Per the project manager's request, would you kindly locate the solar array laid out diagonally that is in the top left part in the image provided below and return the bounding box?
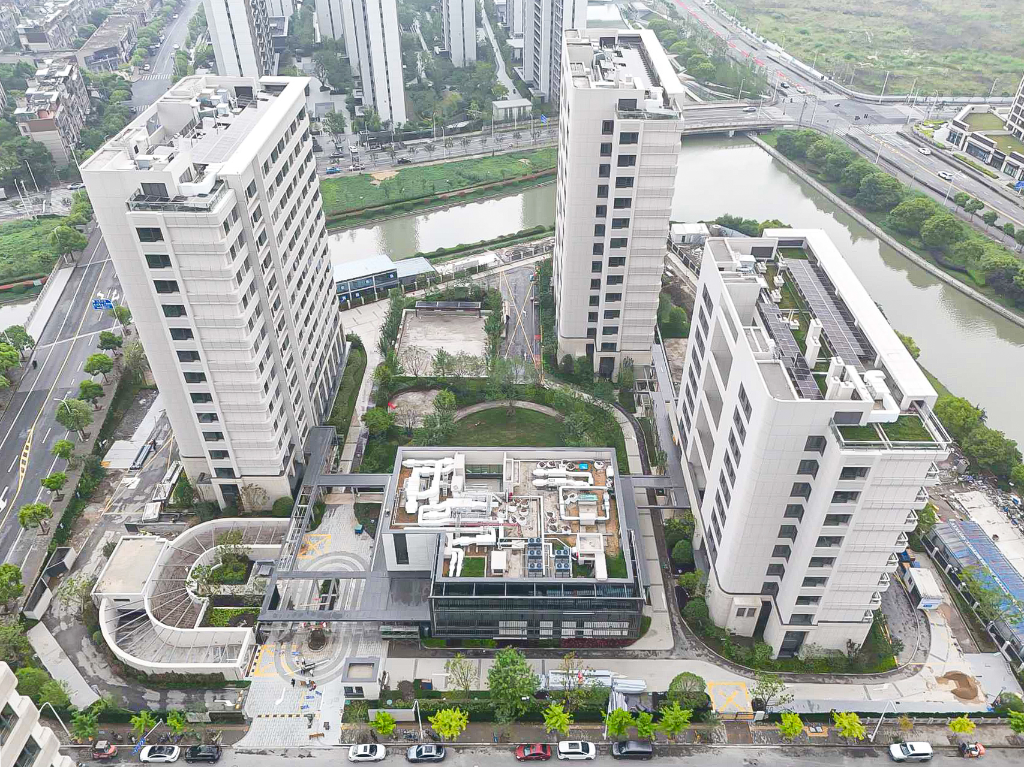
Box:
[190,99,273,162]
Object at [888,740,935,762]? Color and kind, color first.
white car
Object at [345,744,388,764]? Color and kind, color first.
white car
